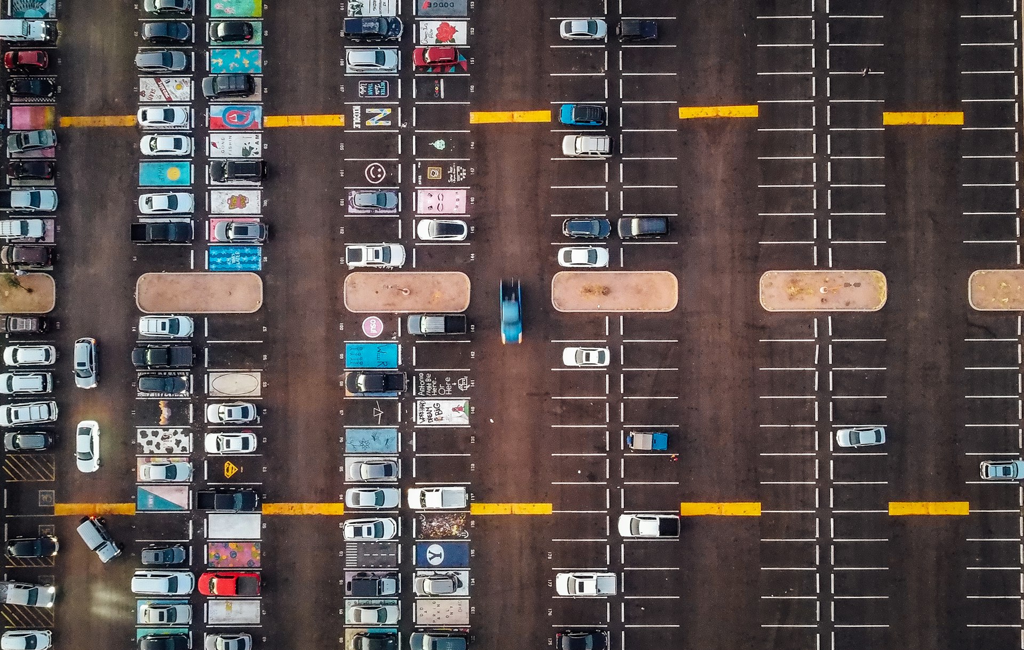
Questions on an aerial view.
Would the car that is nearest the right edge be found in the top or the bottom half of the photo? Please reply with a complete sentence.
Seen from above, the car that is nearest the right edge lies in the bottom half of the view.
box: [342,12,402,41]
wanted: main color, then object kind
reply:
black truck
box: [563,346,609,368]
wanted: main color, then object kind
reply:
white car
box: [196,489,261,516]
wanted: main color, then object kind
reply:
black truck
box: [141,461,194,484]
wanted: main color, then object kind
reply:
white car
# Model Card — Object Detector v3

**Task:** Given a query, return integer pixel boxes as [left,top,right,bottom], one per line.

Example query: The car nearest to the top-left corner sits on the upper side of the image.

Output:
[0,16,50,42]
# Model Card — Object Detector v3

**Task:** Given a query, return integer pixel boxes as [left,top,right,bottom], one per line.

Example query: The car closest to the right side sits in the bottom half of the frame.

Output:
[977,460,1024,483]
